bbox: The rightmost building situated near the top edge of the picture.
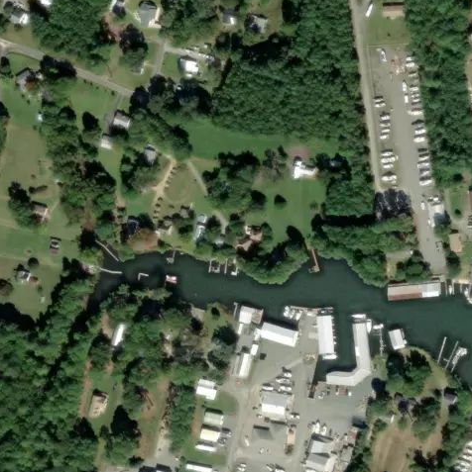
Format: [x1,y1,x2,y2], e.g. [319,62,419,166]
[381,2,406,16]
